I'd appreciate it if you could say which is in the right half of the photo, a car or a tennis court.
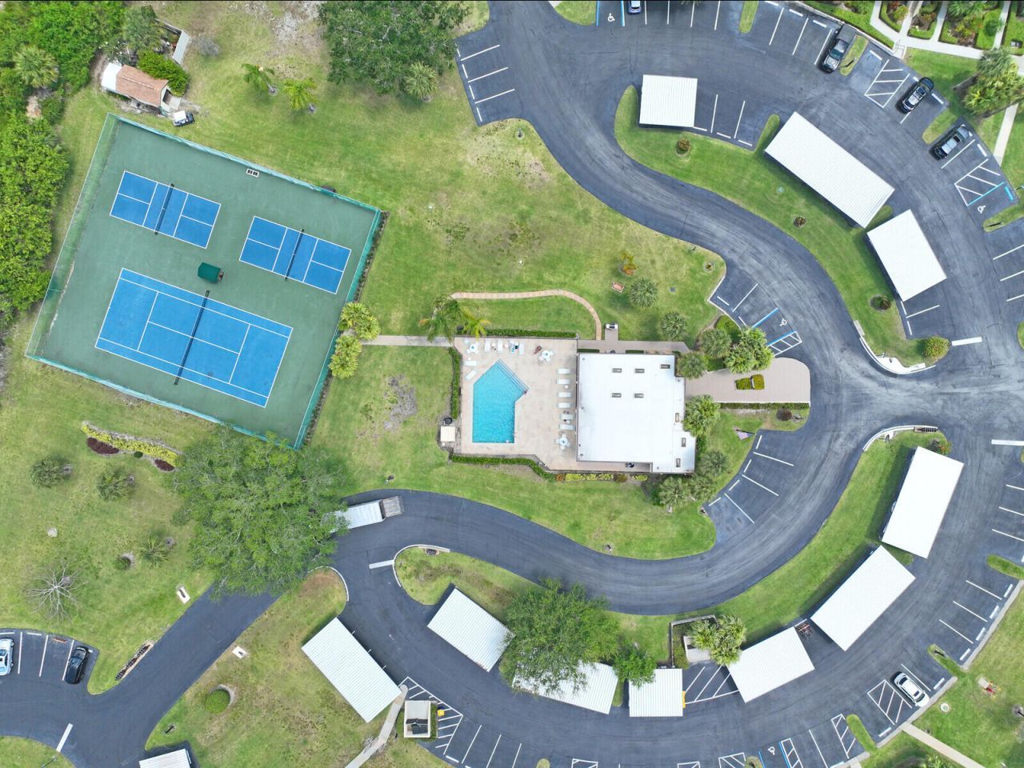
car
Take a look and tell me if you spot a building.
Yes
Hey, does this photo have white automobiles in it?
Yes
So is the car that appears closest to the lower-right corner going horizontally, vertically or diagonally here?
diagonally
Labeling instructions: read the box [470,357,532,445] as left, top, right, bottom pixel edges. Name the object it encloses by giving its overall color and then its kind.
blue swimming pool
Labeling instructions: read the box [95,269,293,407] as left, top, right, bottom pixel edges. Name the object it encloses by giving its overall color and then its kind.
blue tennis court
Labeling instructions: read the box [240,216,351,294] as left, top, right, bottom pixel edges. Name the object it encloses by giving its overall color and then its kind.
blue sports court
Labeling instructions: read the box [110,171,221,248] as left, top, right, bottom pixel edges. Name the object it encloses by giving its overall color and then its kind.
blue sports court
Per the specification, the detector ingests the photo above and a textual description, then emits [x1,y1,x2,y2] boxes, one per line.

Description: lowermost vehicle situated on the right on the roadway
[891,670,928,708]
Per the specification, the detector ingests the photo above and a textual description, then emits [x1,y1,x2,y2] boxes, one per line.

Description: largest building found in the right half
[576,354,695,473]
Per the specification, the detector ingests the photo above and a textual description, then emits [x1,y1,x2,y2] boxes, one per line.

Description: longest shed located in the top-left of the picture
[101,63,183,110]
